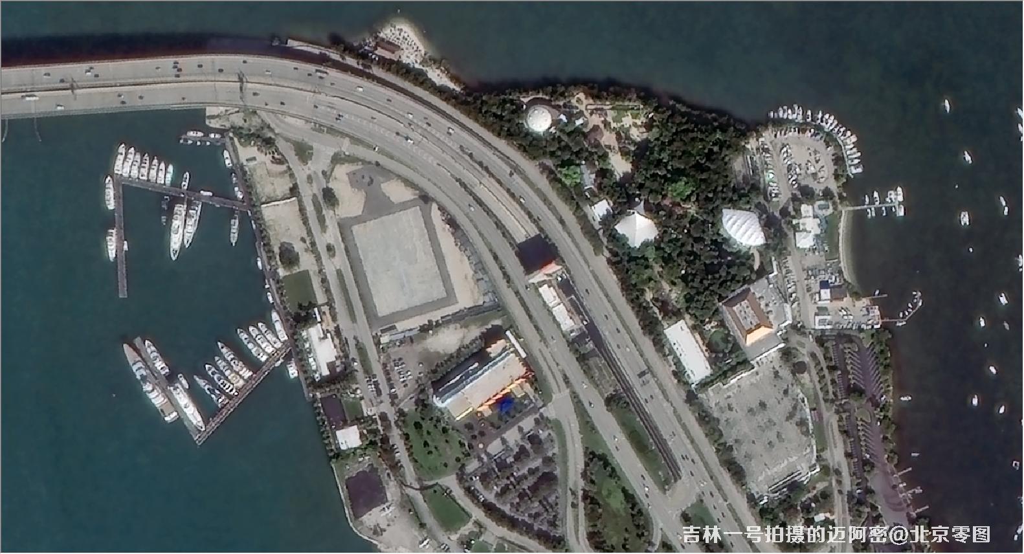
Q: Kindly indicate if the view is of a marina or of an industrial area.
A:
marina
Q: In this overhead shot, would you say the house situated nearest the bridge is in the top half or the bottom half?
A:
top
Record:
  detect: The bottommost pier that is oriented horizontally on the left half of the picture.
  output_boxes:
[116,173,246,208]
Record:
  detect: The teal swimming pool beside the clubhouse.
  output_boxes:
[815,200,833,217]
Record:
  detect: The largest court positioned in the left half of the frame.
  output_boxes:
[320,395,347,430]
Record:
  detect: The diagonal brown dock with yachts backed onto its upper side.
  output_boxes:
[198,346,291,443]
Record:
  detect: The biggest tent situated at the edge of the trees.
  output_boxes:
[615,212,660,248]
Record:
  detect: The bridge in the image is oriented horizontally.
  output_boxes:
[0,54,360,138]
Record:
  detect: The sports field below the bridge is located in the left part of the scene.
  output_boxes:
[283,269,317,310]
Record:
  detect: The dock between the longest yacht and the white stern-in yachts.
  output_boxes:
[136,335,201,441]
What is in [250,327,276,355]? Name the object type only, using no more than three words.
boat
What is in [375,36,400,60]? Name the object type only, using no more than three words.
house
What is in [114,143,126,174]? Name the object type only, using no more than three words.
boat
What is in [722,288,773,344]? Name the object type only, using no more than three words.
building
